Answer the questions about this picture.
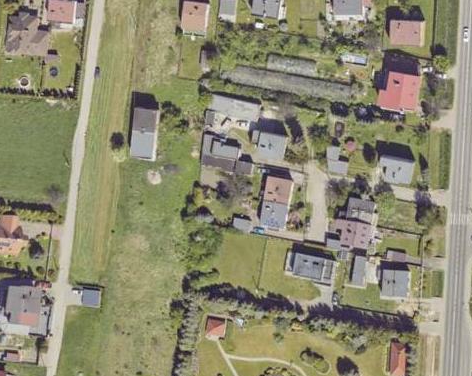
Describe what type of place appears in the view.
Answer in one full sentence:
What you see here is a residential area.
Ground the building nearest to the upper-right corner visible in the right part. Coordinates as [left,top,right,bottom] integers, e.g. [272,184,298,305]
[390,20,426,49]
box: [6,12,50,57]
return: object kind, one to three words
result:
house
